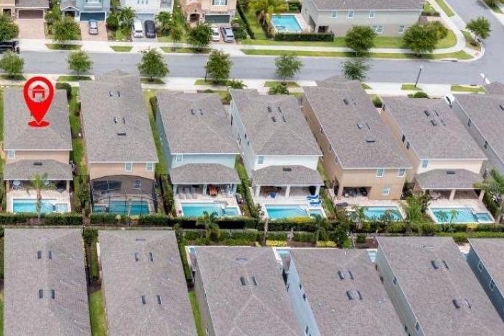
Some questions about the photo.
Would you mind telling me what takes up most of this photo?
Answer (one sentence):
The largest share of the image is taken up by buildings.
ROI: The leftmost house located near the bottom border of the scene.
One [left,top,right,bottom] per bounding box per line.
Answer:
[3,228,91,336]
